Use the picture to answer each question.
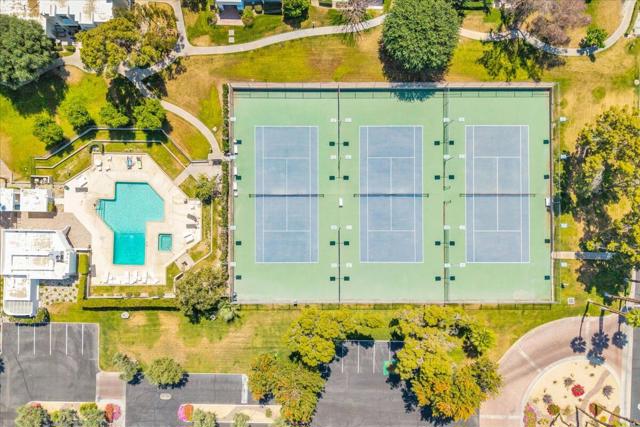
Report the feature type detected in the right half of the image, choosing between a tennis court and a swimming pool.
tennis court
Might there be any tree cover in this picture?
Yes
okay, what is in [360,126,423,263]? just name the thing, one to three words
tennis court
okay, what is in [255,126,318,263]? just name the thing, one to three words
tennis court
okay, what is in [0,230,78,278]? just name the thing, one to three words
building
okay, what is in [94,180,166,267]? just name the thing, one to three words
swimming pool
